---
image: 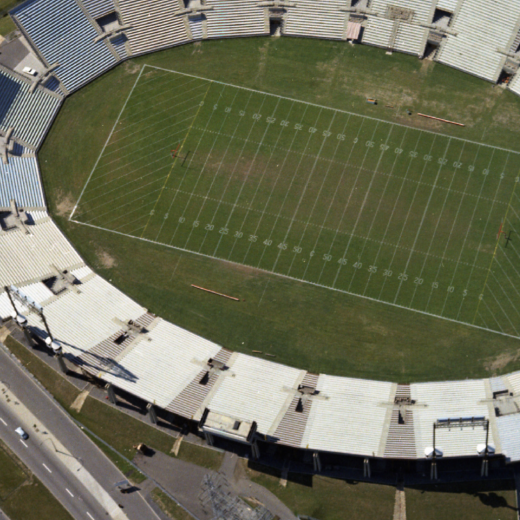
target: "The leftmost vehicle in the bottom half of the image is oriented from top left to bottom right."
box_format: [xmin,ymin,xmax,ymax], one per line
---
[12,424,30,440]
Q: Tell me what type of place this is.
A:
sports ground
